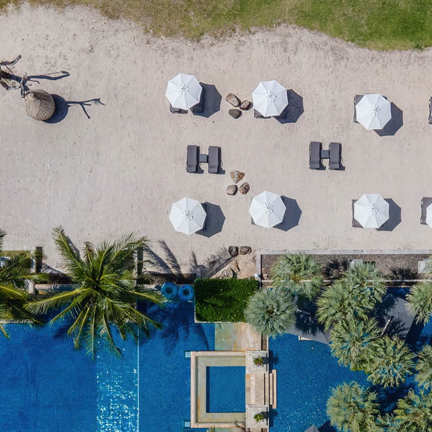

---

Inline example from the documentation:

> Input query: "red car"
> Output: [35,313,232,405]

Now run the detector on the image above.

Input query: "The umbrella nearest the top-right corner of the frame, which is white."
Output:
[355,94,392,131]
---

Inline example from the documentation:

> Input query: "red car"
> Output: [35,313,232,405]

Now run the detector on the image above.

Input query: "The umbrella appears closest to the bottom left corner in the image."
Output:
[170,198,206,235]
